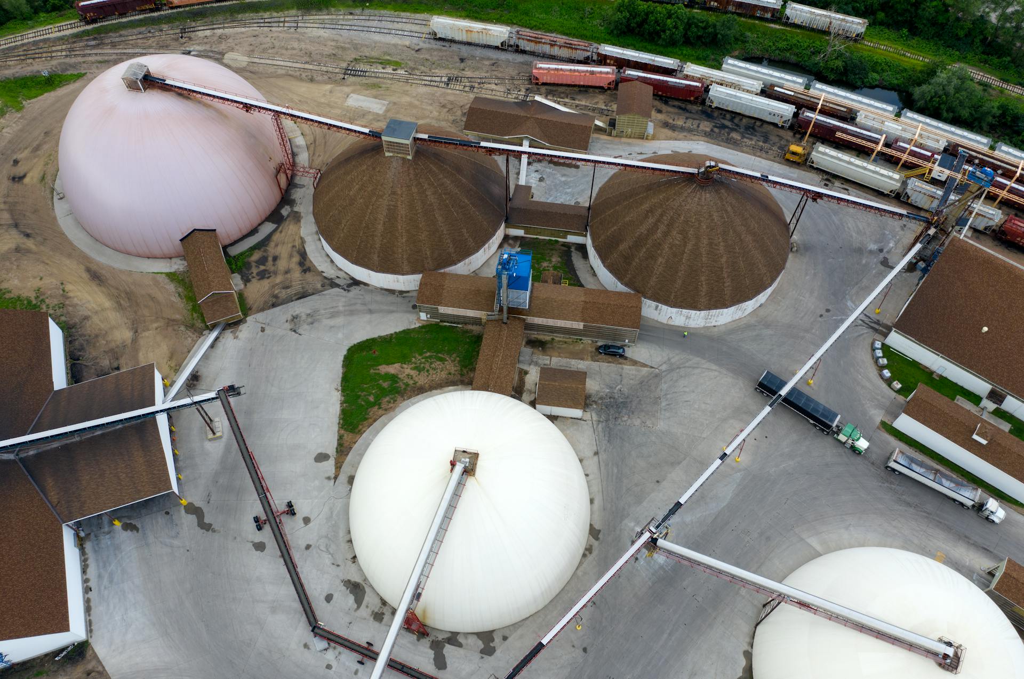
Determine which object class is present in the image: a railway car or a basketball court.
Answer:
railway car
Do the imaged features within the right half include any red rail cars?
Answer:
Yes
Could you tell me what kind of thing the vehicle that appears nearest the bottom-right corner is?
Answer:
truck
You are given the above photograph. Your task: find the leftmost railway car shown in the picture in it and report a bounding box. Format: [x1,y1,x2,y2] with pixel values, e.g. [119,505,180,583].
[77,0,165,21]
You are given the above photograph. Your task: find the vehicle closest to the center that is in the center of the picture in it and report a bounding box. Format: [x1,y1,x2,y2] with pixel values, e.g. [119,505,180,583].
[597,344,625,358]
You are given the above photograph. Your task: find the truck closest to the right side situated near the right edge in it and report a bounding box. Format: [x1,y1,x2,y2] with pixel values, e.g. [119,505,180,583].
[885,448,1005,525]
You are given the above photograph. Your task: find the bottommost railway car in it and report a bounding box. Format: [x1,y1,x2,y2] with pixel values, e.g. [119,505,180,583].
[990,216,1024,251]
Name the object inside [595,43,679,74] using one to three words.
rail car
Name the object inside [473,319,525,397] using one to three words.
building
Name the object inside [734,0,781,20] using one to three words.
rail car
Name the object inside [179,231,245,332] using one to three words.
shed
